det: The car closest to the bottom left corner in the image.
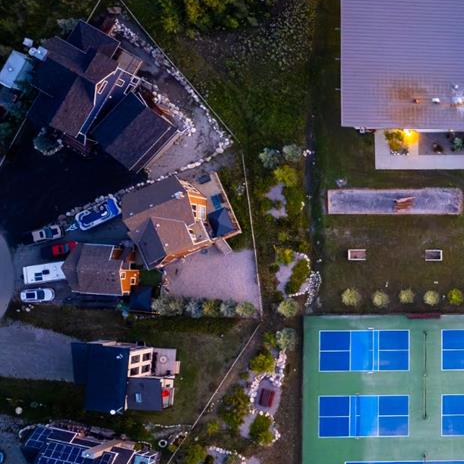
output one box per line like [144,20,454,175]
[22,286,59,302]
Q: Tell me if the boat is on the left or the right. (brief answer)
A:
left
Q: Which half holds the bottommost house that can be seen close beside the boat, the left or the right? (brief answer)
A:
left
